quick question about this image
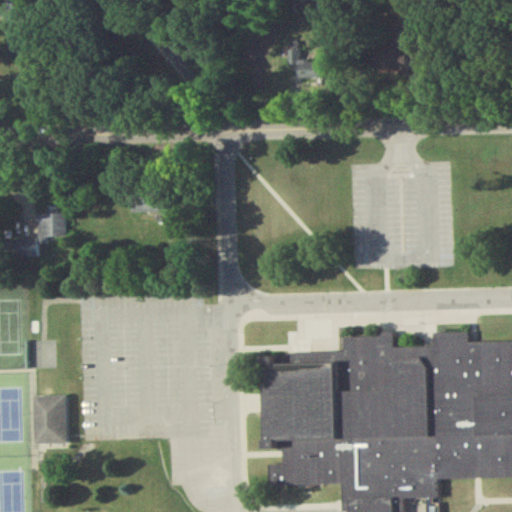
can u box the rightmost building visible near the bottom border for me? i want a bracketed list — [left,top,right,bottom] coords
[259,326,512,512]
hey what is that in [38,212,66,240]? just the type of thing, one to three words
house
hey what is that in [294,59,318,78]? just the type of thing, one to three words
house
